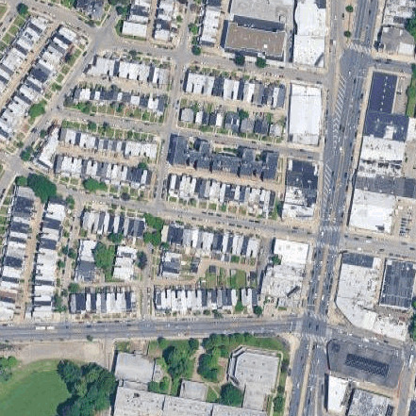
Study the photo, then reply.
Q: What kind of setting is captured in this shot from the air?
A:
residential area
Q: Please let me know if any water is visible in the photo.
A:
No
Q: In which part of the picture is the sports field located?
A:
bottom left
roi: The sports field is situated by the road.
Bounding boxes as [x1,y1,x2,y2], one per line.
[0,353,75,416]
